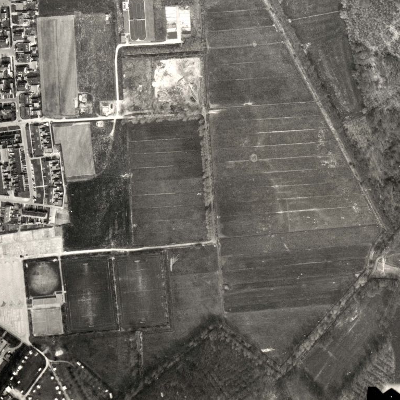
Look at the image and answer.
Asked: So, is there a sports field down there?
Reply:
Yes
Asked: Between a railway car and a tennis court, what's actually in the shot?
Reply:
tennis court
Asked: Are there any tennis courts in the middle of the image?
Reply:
No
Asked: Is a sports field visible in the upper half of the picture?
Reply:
No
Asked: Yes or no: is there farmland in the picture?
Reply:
Yes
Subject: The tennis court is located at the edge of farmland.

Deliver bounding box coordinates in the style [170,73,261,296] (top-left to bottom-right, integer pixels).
[32,293,62,336]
